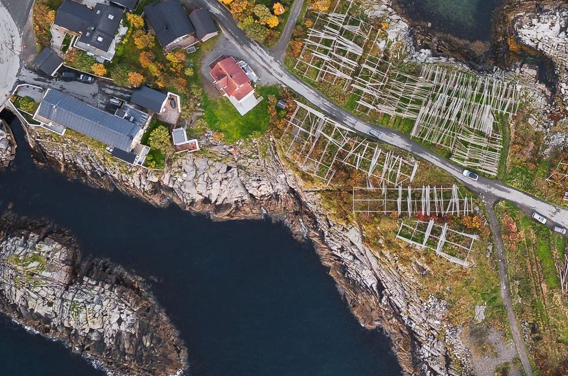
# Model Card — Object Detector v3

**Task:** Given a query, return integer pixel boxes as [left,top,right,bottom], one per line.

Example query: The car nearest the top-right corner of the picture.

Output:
[461,169,480,182]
